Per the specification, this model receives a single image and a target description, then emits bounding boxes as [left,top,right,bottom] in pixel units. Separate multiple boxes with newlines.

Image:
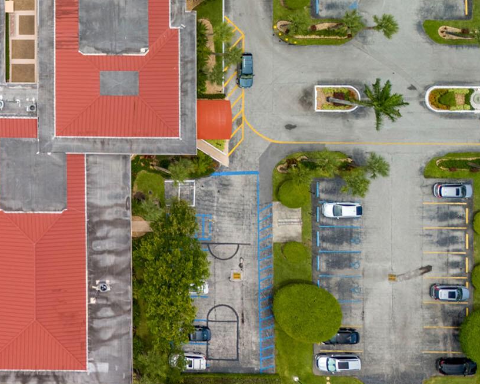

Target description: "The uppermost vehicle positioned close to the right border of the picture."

[429,181,471,199]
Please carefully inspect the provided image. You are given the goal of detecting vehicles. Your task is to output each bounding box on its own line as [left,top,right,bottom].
[321,326,360,343]
[319,200,362,219]
[427,283,468,303]
[193,323,215,340]
[235,52,253,87]
[429,181,471,199]
[434,355,475,376]
[189,278,211,294]
[176,351,208,370]
[314,351,361,373]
